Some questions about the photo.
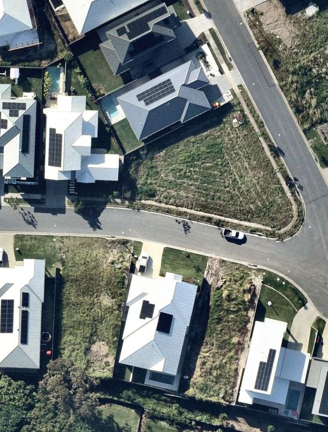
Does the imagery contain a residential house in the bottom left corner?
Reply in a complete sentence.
Yes, a residential house can be seen in the bottom left corner.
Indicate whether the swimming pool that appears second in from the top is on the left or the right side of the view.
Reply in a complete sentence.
You can find the swimming pool that appears second in from the top on the left side of the picture.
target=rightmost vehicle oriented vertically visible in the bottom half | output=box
[136,251,149,275]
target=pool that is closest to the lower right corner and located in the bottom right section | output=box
[284,388,303,412]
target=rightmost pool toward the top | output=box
[100,95,120,121]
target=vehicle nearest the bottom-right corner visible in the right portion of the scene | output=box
[220,228,247,241]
